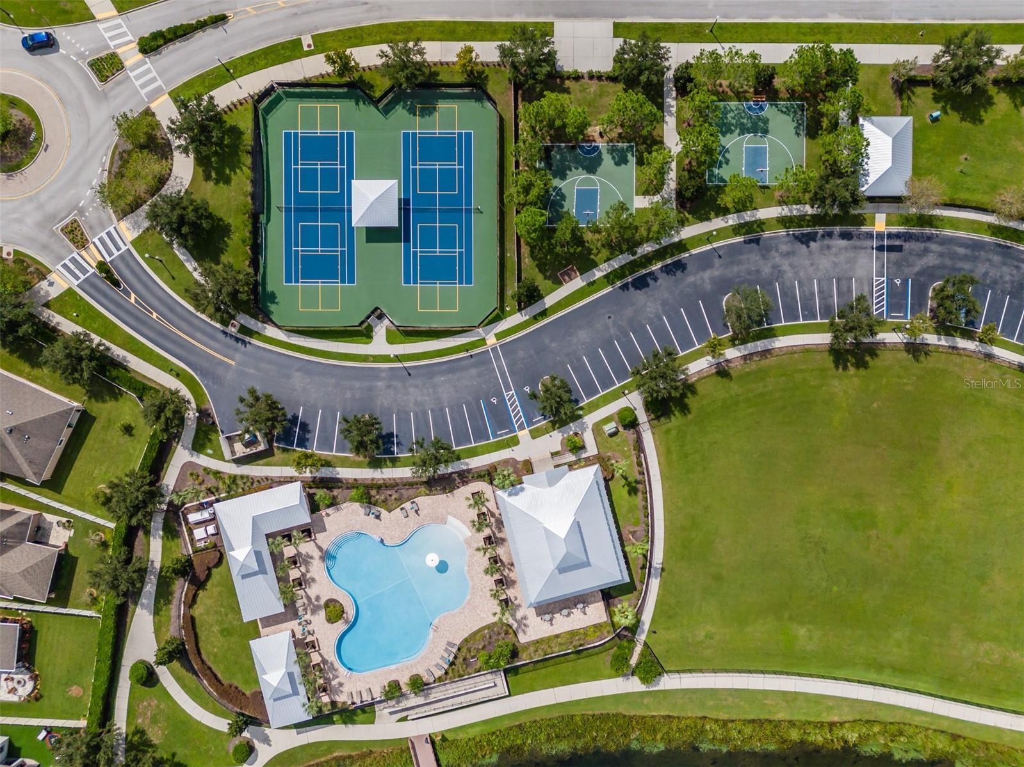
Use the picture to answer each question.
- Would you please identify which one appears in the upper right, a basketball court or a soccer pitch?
basketball court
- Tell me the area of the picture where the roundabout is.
top left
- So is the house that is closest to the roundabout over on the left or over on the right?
left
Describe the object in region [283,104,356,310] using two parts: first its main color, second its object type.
blue tennis court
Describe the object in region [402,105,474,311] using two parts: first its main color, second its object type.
blue tennis court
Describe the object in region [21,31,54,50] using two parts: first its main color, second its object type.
blue car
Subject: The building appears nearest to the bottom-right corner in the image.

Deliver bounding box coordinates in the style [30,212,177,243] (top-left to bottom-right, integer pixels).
[496,464,630,608]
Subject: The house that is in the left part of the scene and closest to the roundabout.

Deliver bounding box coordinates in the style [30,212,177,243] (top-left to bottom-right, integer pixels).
[0,368,85,485]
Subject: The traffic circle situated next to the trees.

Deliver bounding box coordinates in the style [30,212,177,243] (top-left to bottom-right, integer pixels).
[0,33,106,234]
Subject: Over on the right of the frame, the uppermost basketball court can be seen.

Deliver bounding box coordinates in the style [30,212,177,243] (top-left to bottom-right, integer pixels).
[706,102,805,184]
